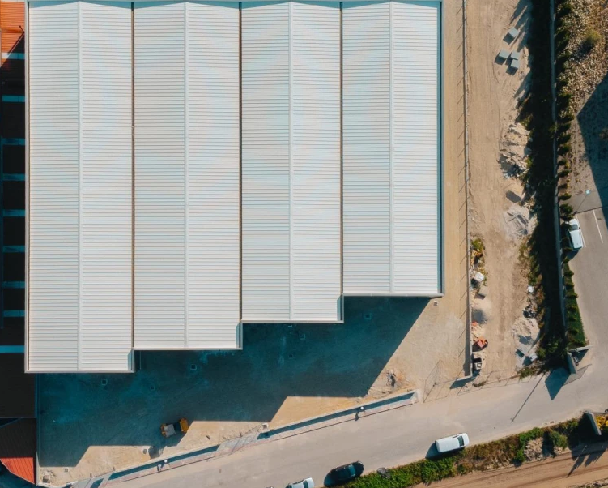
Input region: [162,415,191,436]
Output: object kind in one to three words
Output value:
work vehicle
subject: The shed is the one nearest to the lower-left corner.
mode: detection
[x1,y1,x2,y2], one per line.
[0,417,38,484]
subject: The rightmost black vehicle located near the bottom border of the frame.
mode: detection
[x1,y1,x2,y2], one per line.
[326,462,364,485]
